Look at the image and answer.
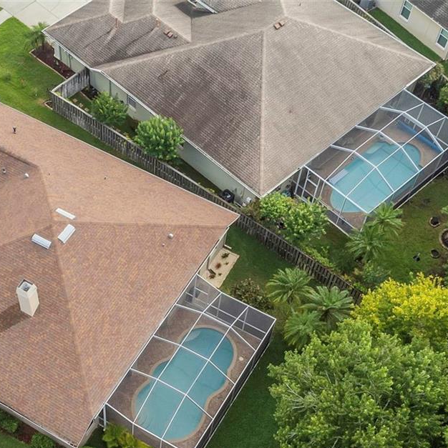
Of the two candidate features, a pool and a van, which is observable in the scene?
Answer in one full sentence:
Visible in the photo is a pool.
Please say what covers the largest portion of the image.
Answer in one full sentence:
The scene is dominated by buildings.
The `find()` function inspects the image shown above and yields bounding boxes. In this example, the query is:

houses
[373,0,448,58]
[41,0,436,204]
[0,103,239,448]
